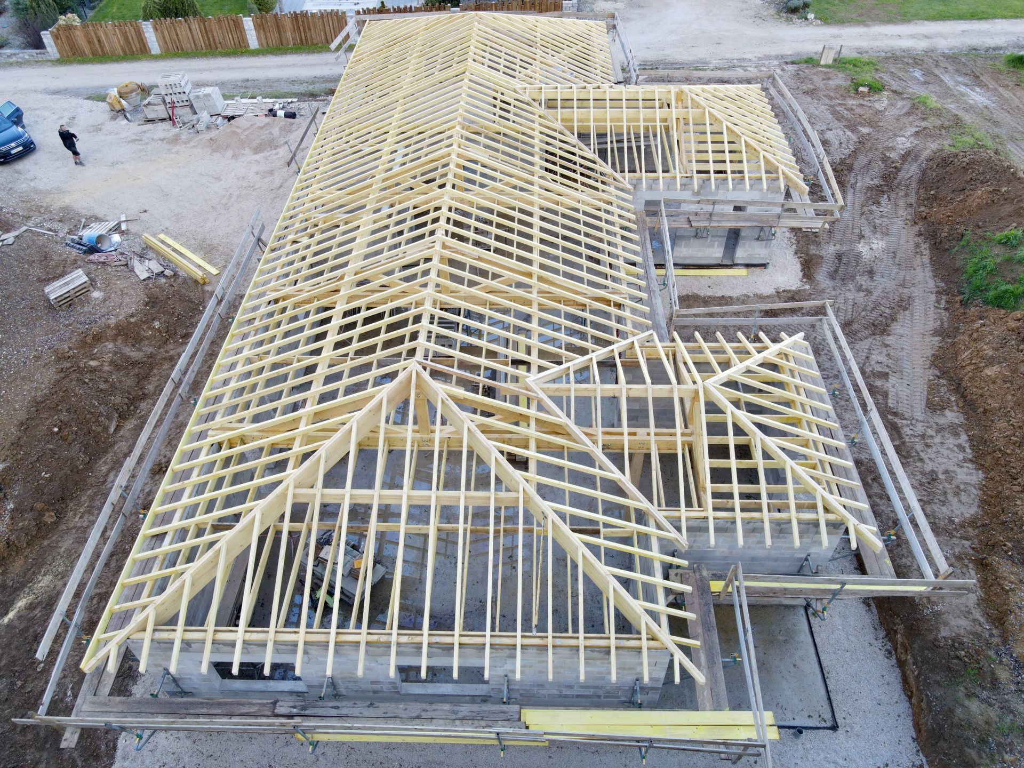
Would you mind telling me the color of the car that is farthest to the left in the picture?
blue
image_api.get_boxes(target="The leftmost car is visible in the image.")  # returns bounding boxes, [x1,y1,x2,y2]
[0,91,35,160]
